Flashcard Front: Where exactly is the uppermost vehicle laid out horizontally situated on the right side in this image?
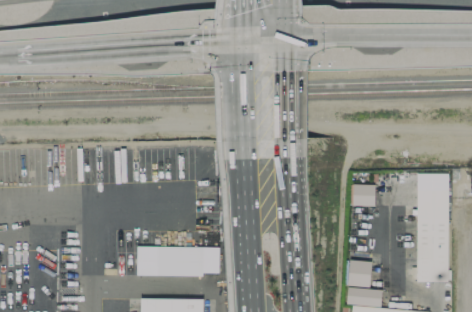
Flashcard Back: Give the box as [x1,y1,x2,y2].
[274,31,318,48]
